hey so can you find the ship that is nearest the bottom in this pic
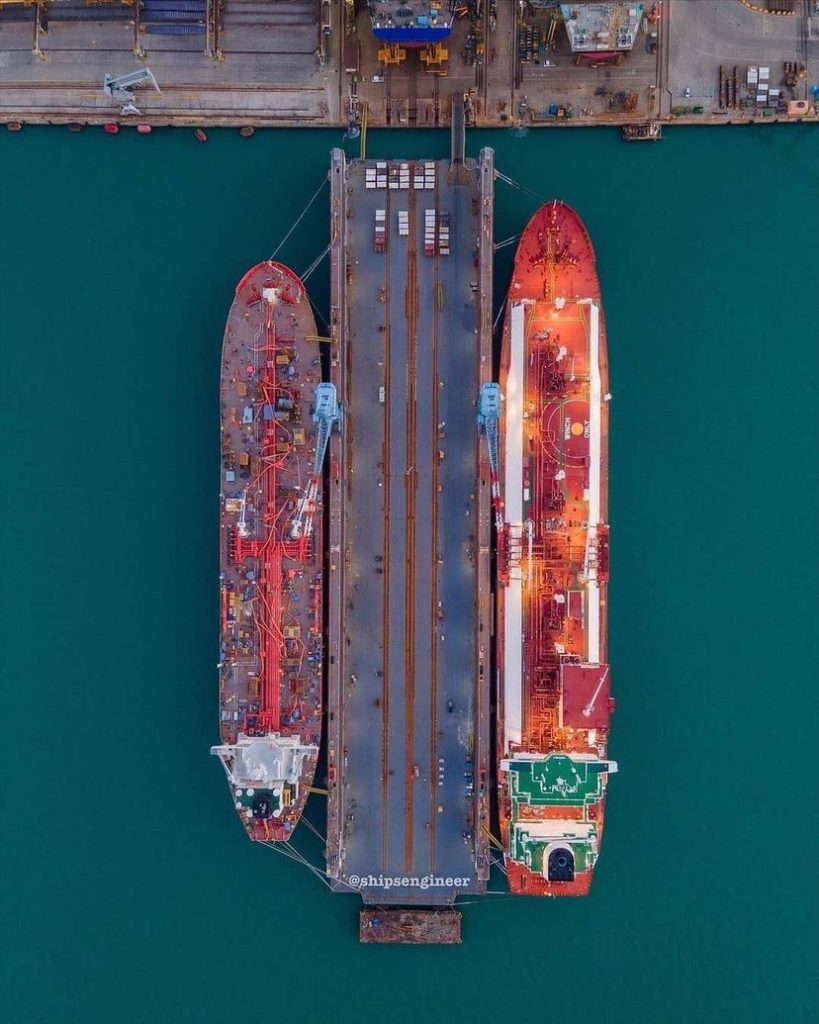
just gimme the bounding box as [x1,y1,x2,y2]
[360,907,463,944]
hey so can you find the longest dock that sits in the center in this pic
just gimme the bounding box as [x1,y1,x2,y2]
[326,145,494,905]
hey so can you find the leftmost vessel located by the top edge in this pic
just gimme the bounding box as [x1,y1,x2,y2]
[370,0,454,47]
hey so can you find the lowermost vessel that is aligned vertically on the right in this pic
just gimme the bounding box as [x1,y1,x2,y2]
[495,199,618,896]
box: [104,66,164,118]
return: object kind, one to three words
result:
crane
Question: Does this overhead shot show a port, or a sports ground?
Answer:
port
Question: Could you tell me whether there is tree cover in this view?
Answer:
No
